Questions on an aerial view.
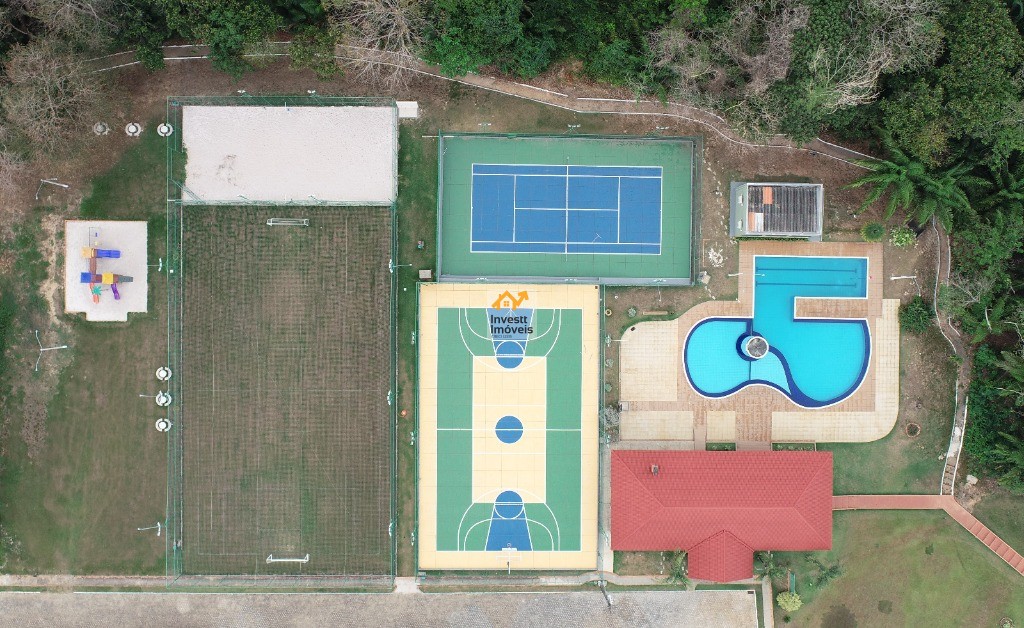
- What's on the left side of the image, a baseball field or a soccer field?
soccer field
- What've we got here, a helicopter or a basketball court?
basketball court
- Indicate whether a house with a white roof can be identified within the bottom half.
No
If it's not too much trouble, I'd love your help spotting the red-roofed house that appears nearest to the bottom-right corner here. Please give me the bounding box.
[611,450,833,583]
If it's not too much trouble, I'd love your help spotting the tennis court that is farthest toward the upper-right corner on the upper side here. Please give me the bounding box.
[439,134,695,286]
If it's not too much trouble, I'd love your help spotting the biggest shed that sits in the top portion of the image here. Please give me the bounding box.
[737,183,823,238]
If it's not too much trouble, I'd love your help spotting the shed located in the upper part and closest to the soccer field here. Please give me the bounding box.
[397,100,419,120]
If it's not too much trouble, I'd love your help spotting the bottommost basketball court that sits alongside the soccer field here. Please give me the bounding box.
[417,284,601,572]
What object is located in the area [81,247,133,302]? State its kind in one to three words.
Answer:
playground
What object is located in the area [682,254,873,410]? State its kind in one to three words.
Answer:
swimming pool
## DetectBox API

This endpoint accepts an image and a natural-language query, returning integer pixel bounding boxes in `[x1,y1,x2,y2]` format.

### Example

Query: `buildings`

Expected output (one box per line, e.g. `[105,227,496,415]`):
[397,100,419,120]
[611,450,833,583]
[737,183,823,238]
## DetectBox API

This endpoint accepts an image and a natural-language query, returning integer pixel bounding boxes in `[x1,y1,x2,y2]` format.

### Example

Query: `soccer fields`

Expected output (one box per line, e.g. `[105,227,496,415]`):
[181,204,398,577]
